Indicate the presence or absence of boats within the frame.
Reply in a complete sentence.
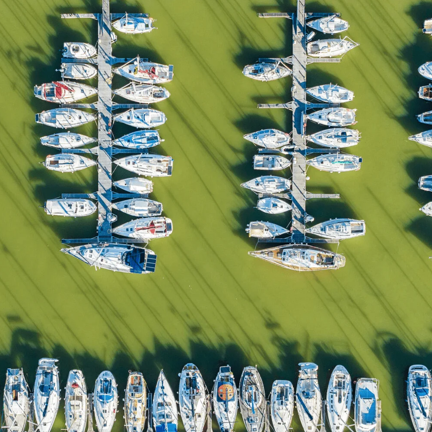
Yes, you can see a boat in this photo.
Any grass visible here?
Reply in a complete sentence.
No, the picture contains no grass.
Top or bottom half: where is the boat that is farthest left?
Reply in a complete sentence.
The bottom half of the photo is where the boat that is farthest left is.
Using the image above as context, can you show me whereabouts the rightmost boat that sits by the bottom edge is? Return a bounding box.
[401,366,432,432]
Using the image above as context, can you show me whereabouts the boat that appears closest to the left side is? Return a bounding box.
[0,370,30,432]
